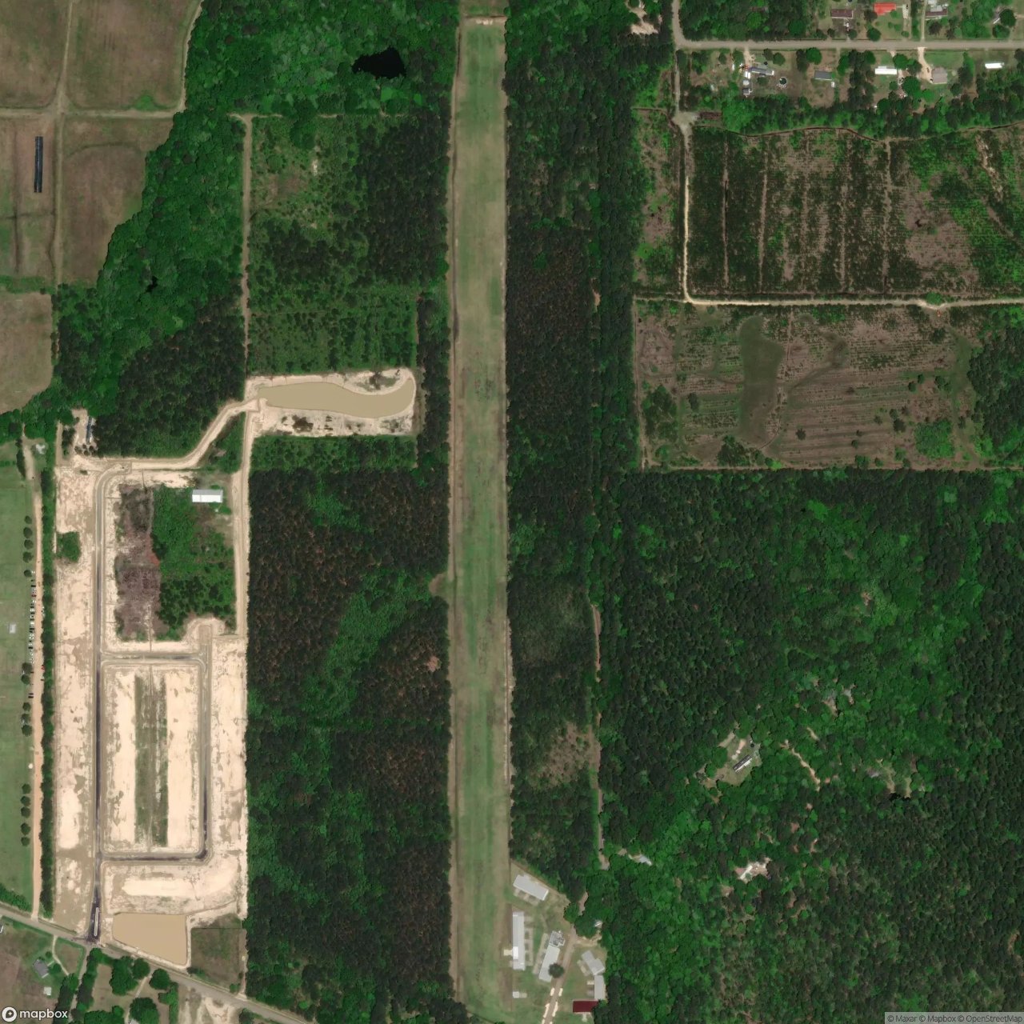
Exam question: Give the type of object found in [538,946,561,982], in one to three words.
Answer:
building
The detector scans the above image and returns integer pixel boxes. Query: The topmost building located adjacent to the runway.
[514,875,547,900]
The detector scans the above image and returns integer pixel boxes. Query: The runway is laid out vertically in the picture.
[446,21,510,1010]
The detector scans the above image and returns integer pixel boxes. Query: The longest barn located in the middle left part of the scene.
[191,489,222,503]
